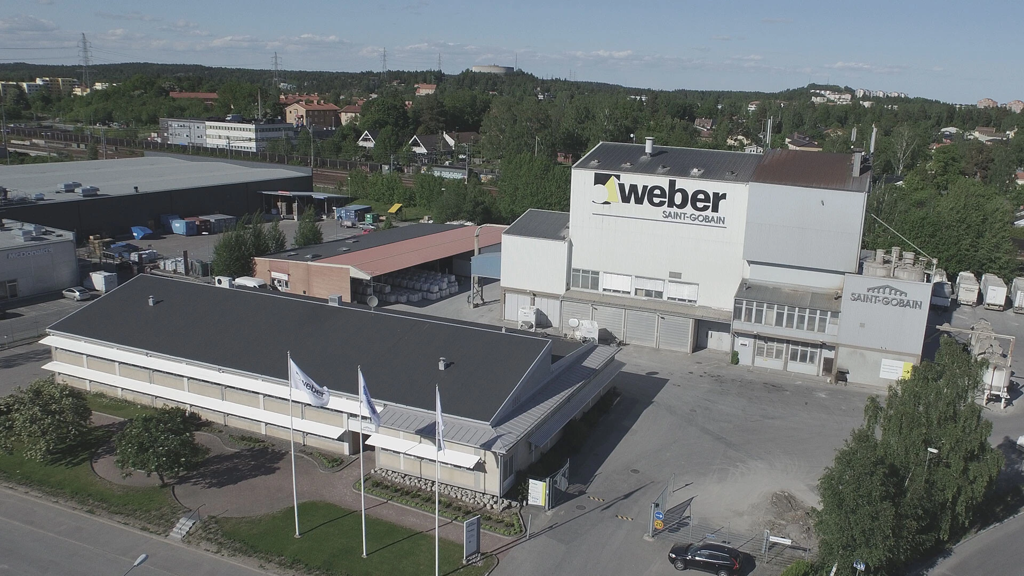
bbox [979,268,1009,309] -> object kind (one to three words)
truck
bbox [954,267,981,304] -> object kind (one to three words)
truck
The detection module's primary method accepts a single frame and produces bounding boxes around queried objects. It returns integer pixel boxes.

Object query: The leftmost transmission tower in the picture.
[73,33,96,95]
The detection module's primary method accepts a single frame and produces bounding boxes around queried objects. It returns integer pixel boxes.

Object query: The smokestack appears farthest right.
[854,146,870,170]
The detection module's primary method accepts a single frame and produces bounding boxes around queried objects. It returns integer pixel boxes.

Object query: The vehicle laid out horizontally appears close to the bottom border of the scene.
[665,536,745,576]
